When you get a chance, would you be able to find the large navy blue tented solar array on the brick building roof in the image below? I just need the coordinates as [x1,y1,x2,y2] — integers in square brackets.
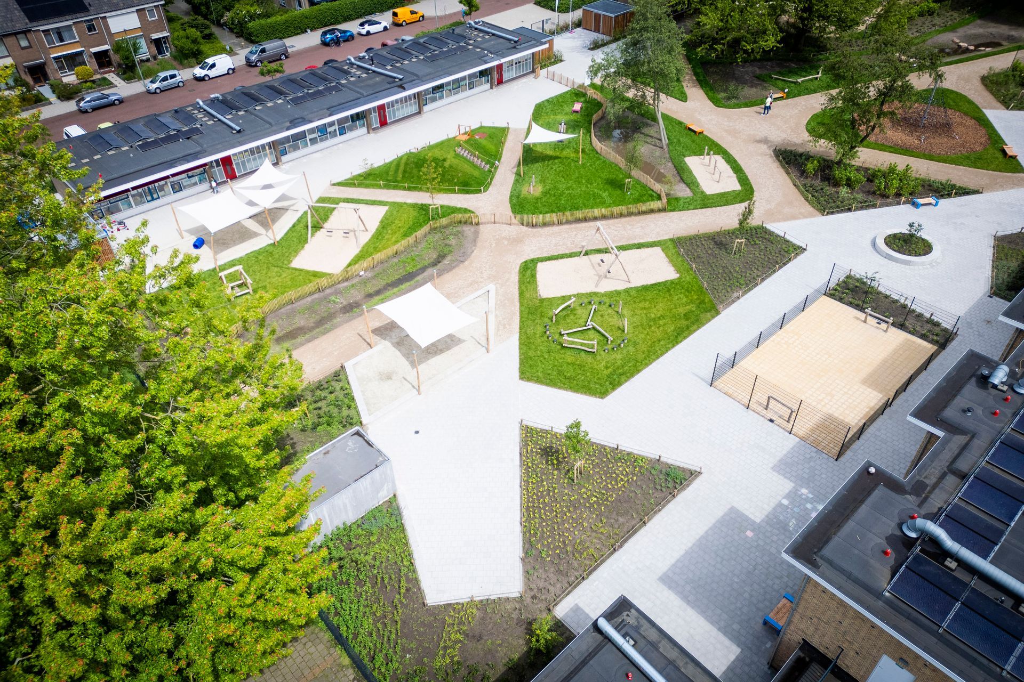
[882,403,1024,682]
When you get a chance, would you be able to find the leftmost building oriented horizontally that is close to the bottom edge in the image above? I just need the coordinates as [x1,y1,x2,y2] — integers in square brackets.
[532,595,725,682]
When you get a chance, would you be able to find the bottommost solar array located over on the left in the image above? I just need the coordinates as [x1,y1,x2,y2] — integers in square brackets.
[85,109,199,154]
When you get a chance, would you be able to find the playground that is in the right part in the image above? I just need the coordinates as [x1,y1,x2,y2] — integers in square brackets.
[517,188,1024,682]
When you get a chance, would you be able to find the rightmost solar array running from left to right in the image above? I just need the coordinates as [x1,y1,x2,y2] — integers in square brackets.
[367,31,466,66]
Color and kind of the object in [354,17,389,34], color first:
white car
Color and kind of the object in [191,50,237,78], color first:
white van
